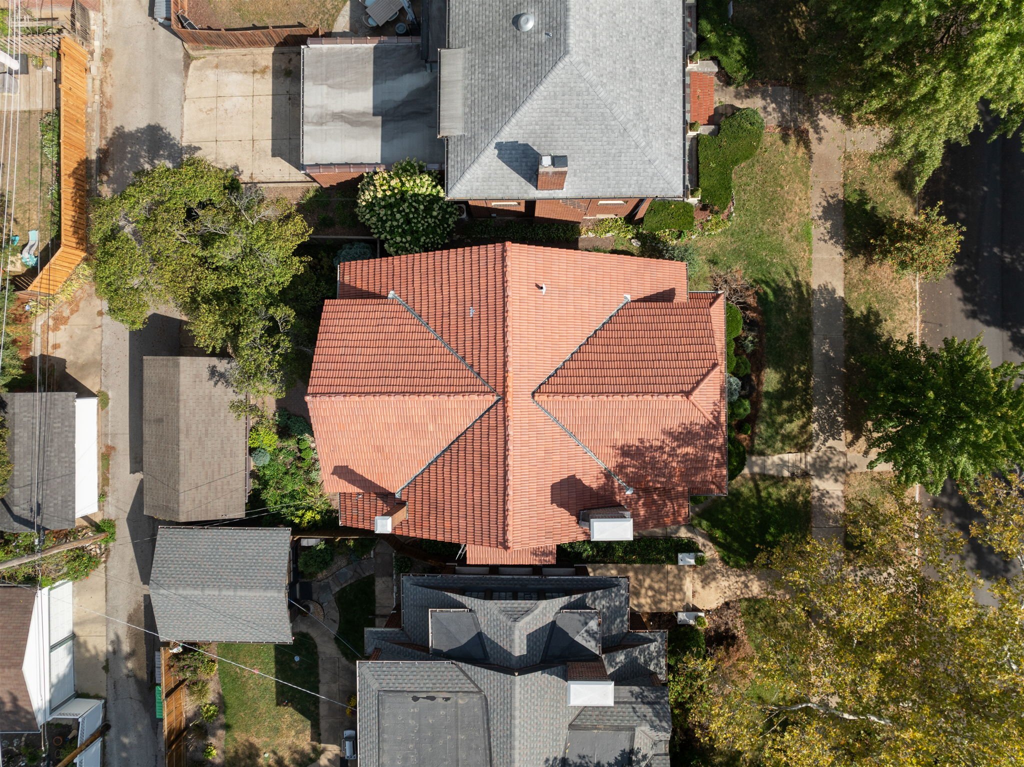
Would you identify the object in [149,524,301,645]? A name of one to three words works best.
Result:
building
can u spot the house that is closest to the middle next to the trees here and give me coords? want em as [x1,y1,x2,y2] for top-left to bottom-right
[303,240,727,565]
